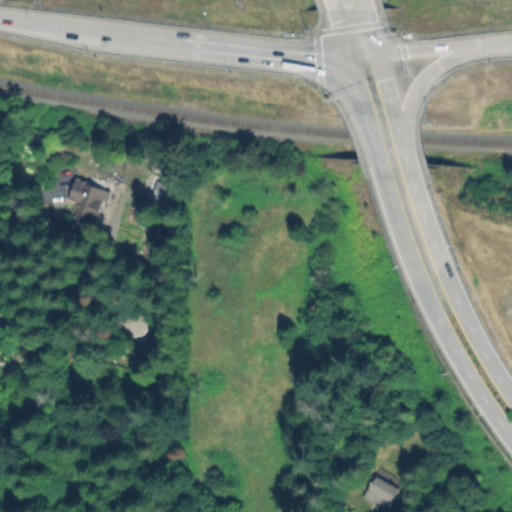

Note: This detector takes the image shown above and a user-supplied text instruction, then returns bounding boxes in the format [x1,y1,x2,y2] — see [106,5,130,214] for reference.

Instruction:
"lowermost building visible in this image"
[364,468,402,507]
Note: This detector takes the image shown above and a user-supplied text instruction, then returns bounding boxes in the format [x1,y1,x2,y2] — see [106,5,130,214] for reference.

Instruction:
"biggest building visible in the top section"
[66,178,110,218]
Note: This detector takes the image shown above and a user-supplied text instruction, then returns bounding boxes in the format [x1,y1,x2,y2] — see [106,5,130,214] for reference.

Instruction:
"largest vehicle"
[282,60,326,73]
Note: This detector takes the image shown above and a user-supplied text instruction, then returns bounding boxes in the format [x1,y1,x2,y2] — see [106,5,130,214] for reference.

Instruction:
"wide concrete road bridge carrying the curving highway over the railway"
[316,118,479,169]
